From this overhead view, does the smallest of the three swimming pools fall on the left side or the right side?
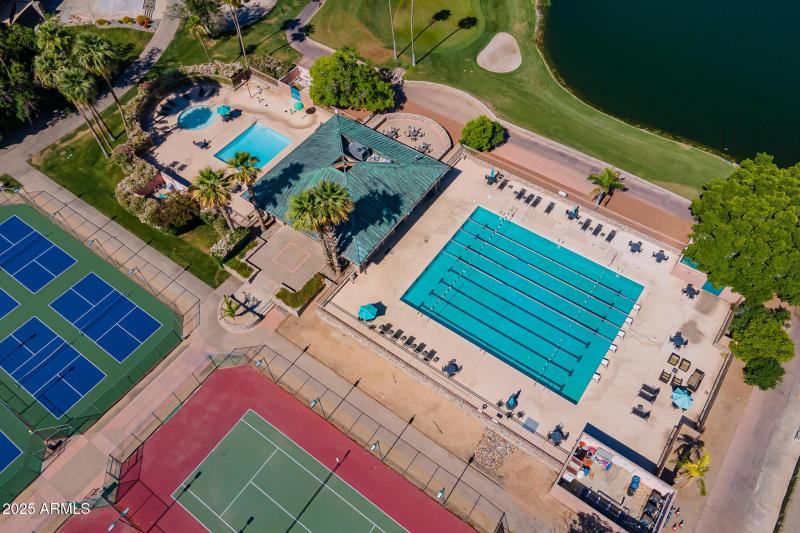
left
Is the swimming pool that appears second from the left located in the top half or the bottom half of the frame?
top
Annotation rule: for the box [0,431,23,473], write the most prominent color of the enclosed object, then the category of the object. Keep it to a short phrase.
blue sports court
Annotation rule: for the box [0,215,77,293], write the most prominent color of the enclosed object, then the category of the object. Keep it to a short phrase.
blue sports court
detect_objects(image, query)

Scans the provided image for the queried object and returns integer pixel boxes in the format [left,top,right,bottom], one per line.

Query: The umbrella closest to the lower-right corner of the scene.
[672,385,698,409]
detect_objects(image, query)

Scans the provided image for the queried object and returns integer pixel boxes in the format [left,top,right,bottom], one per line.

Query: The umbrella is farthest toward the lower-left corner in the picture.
[359,299,382,320]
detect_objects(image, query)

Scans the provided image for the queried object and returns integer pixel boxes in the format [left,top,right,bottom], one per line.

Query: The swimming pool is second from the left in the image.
[211,120,295,169]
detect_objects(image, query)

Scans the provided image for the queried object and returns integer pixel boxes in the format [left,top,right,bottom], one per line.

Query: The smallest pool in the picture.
[175,106,217,130]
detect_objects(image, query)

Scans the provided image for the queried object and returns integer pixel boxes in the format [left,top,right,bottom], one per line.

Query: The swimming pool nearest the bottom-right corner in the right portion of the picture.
[398,205,647,407]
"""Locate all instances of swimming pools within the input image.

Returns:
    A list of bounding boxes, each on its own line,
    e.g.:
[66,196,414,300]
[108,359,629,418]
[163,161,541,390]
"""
[398,205,647,407]
[175,106,217,130]
[211,120,295,169]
